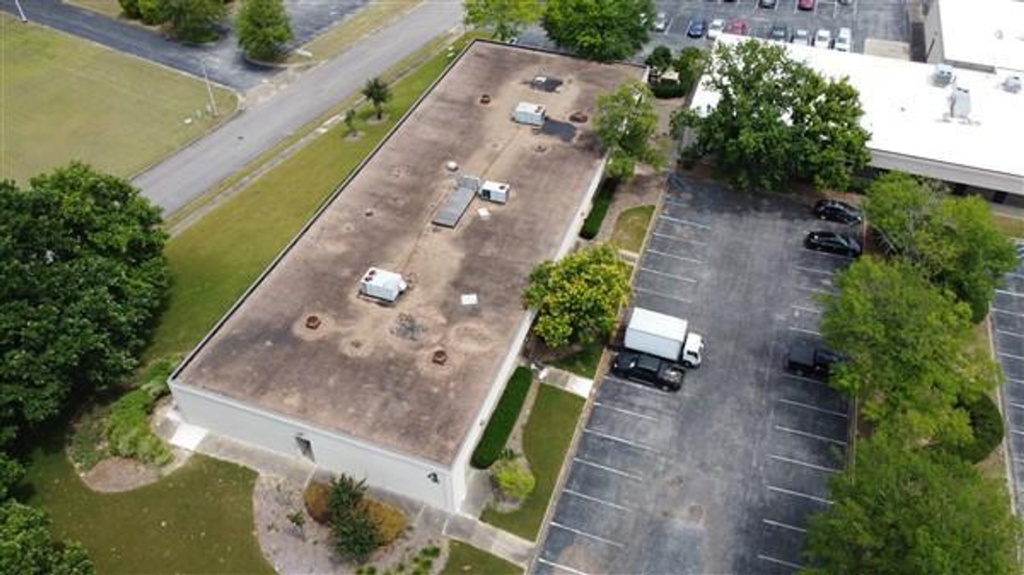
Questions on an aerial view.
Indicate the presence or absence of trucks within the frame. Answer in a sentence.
Yes, there's a truck here.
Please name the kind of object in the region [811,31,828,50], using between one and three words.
car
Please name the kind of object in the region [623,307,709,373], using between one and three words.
truck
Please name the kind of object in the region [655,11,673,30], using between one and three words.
car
